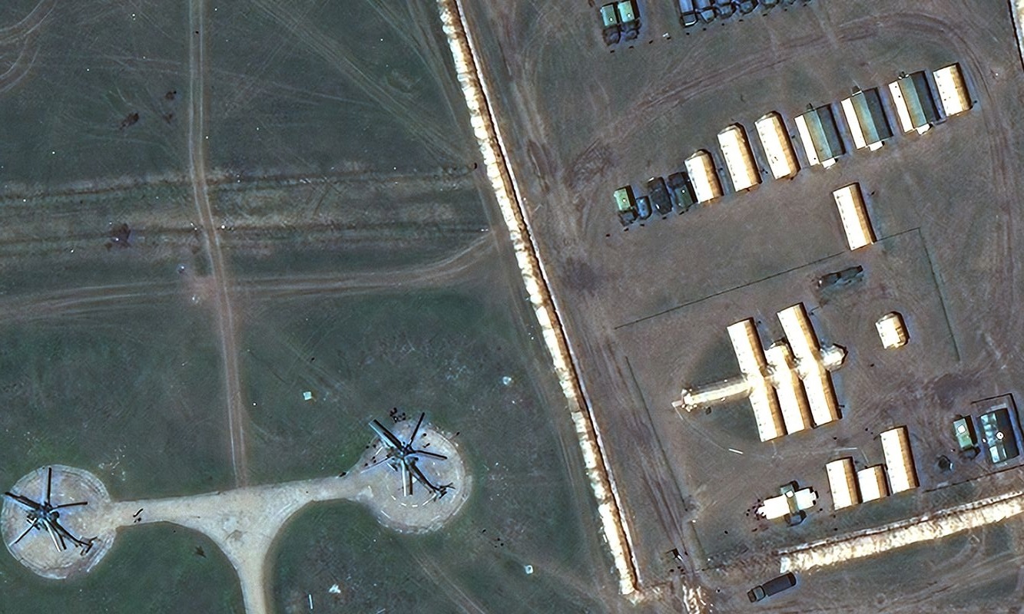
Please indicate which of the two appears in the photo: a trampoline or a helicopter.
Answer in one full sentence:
Looking from above, you can make out a helicopter.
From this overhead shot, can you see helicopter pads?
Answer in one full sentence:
Yes, this view includes a helicopter pad.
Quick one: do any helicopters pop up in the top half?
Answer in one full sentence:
No, there is no helicopter in the top half.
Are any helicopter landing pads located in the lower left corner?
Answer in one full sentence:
Yes, I can see a helicopter landing pad in the lower left corner.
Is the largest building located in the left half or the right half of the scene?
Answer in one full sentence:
The largest building appears in the right half of the scene.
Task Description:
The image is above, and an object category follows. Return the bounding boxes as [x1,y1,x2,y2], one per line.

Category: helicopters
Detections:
[362,413,449,500]
[3,467,95,556]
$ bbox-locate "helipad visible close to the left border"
[3,466,111,578]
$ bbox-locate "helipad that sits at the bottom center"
[365,421,470,533]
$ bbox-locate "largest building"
[681,306,843,442]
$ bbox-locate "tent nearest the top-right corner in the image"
[933,66,969,116]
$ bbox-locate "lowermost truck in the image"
[746,573,796,604]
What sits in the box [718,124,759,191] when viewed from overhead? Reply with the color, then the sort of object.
white tent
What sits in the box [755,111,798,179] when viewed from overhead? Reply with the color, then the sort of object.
white tent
